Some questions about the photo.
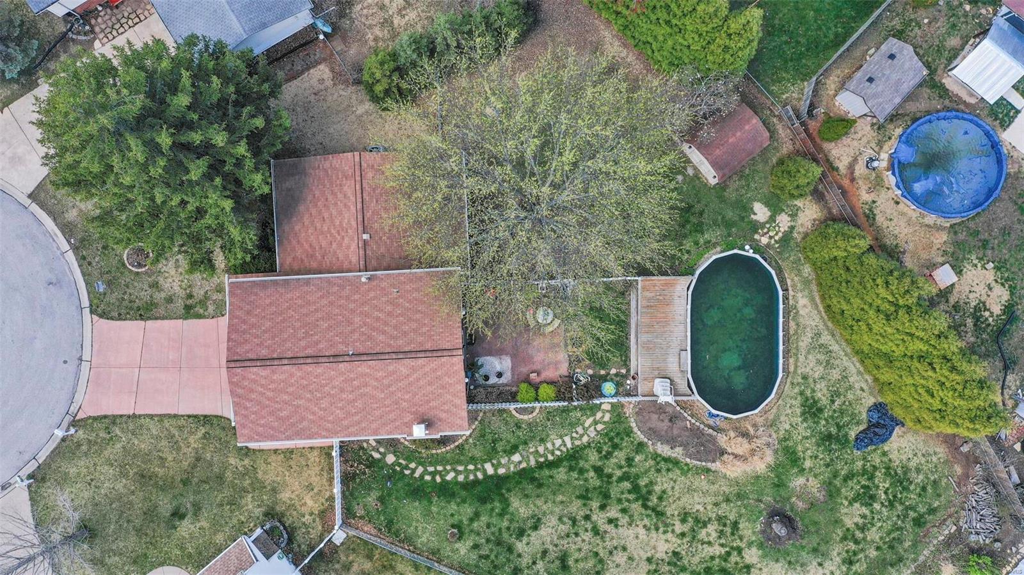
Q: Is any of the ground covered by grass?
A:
Yes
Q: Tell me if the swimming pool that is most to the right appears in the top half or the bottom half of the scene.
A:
top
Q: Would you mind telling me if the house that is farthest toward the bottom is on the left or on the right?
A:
left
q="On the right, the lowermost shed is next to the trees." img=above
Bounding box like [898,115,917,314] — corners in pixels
[684,102,775,185]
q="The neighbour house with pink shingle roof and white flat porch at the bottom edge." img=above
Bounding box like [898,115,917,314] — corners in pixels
[194,527,303,575]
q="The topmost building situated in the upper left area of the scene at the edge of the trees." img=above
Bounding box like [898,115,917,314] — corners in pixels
[151,0,316,73]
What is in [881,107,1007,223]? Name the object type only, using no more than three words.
swimming pool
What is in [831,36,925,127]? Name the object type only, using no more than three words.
shed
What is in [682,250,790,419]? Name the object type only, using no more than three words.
swimming pool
